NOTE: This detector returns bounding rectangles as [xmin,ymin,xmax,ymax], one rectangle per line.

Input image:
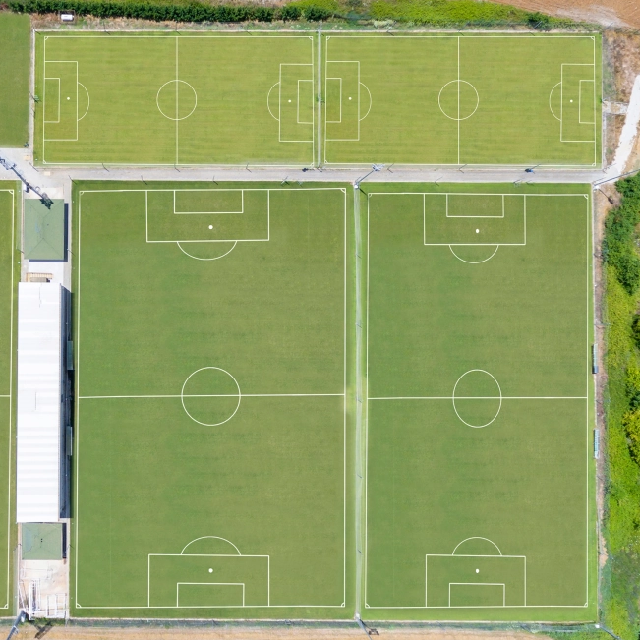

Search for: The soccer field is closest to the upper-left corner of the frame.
[36,32,318,166]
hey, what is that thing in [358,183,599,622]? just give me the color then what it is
green soccer field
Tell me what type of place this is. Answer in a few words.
sports ground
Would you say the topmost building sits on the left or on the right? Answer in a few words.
left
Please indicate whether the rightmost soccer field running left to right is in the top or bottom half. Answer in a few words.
top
